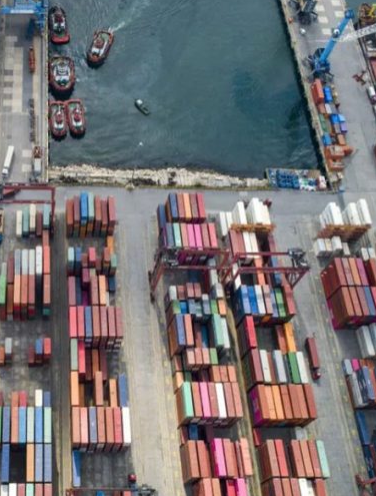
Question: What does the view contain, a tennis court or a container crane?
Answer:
container crane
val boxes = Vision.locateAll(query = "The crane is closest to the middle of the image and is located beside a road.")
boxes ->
[145,247,233,302]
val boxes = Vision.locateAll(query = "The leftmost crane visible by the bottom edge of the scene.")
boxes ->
[63,481,157,496]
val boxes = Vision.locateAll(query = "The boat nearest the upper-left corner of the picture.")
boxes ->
[49,8,70,47]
